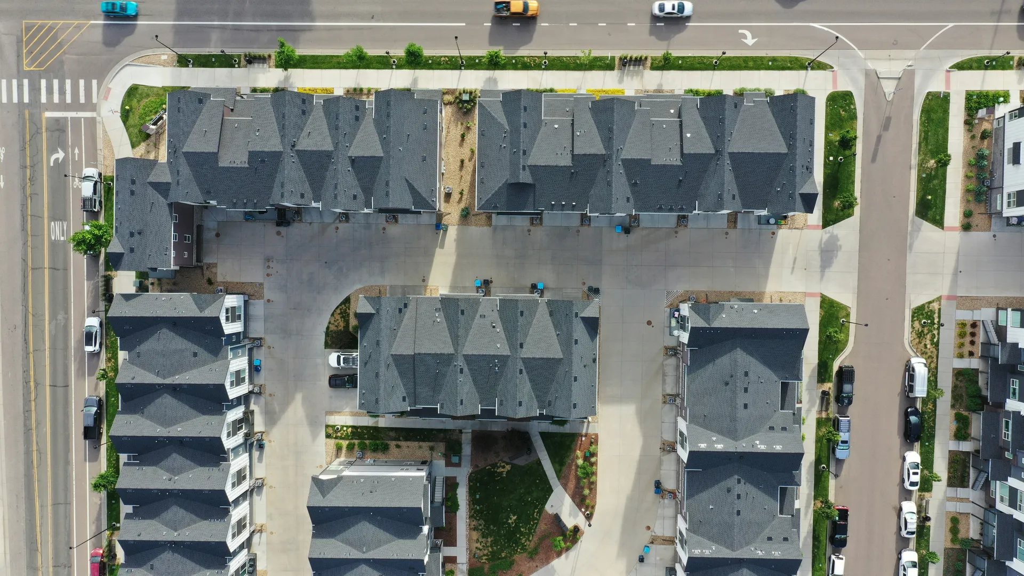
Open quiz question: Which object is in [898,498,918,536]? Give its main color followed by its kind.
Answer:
white car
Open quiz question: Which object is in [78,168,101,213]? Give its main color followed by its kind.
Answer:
white truck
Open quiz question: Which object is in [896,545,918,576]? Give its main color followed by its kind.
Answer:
white car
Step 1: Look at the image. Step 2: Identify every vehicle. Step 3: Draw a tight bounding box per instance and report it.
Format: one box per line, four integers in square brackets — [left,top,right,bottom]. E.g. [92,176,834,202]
[901,448,921,488]
[830,414,851,457]
[834,364,855,407]
[827,502,849,548]
[330,372,358,392]
[903,354,926,398]
[493,0,539,21]
[78,168,101,213]
[828,551,846,576]
[653,0,693,19]
[81,316,102,353]
[97,0,135,18]
[79,395,101,441]
[86,546,107,576]
[898,498,918,536]
[896,545,918,576]
[329,351,358,370]
[902,404,922,442]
